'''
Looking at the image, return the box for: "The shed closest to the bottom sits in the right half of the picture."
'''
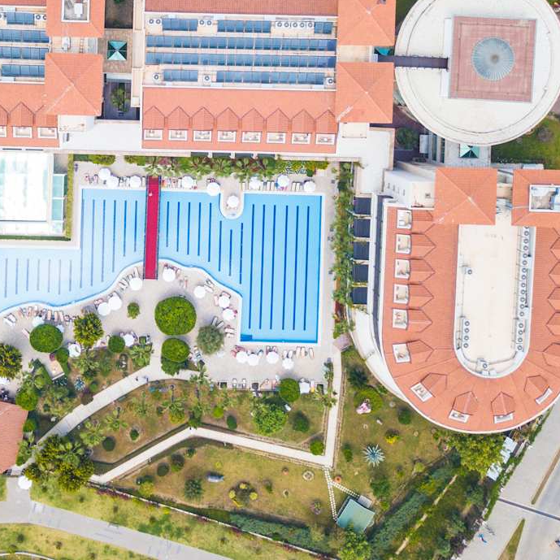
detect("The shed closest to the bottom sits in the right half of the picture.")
[333,489,374,533]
